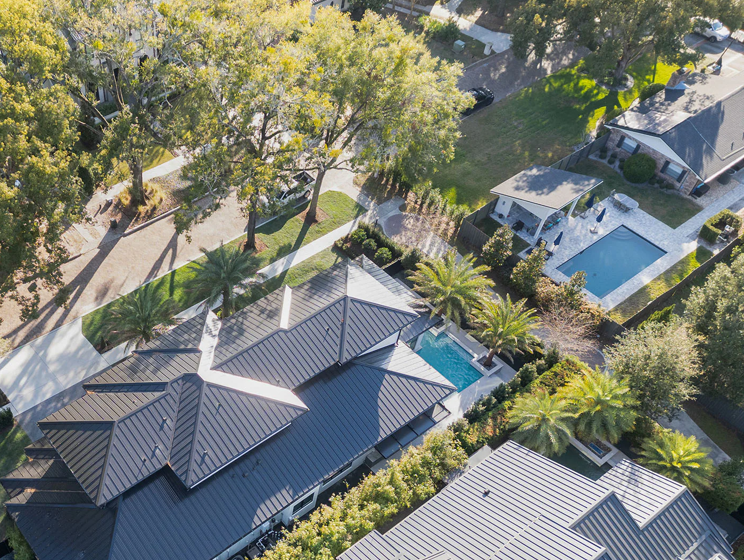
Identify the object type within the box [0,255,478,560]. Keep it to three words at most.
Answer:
house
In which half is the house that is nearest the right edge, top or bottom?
top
